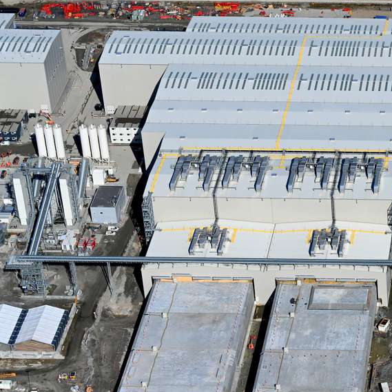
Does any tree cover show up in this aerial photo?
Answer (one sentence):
No, there is no tree cover in the image.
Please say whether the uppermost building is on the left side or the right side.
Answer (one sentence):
The uppermost building is on the left side of the image.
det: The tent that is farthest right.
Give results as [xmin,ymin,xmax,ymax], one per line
[15,308,64,351]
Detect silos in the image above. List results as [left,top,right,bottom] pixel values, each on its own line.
[85,122,100,167]
[41,122,56,159]
[31,122,45,165]
[51,122,66,165]
[95,122,110,167]
[75,122,90,165]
